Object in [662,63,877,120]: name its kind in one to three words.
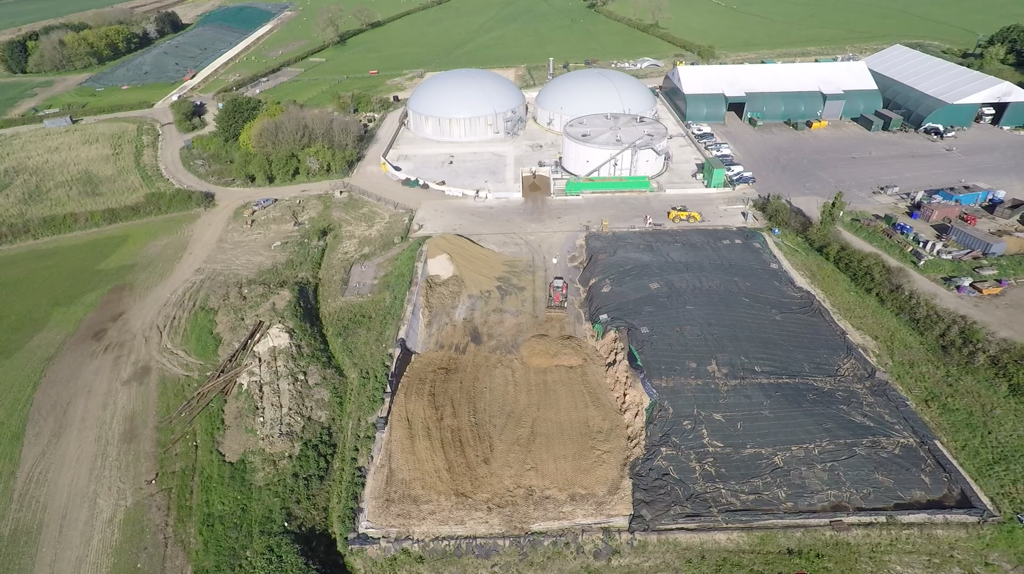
shed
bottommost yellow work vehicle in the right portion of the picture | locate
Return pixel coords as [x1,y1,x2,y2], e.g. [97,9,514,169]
[670,204,706,225]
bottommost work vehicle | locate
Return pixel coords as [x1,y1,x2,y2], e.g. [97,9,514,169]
[547,270,571,310]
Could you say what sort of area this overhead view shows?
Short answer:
industrial area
